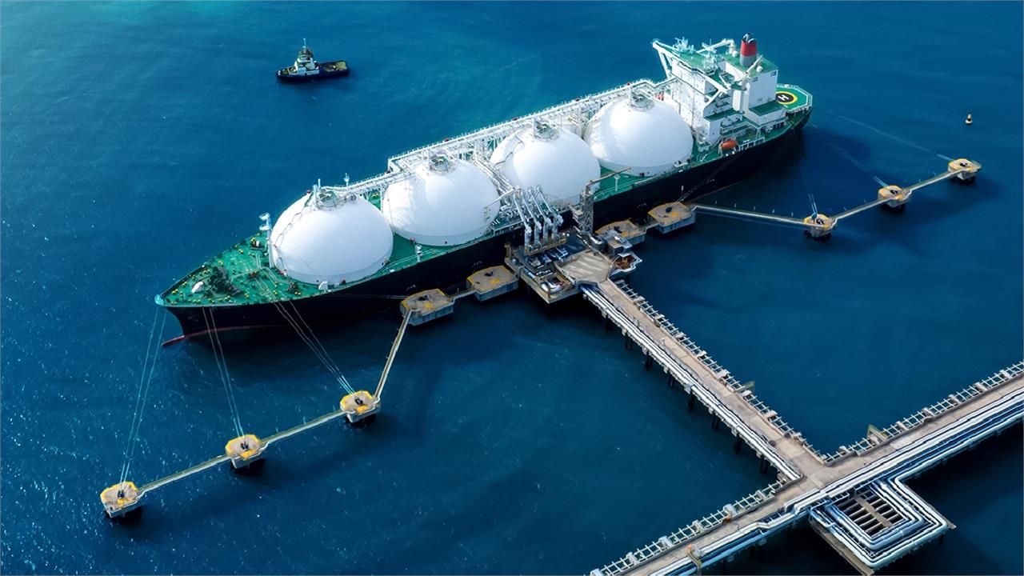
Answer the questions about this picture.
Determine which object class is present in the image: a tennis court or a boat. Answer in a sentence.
It is a boat that can be seen here.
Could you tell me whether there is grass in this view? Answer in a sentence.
No, the picture contains no grass.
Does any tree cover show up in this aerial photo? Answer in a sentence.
No, there's no tree cover in this view.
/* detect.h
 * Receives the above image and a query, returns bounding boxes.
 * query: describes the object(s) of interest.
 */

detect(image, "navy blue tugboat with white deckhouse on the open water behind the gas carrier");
[277,38,350,83]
